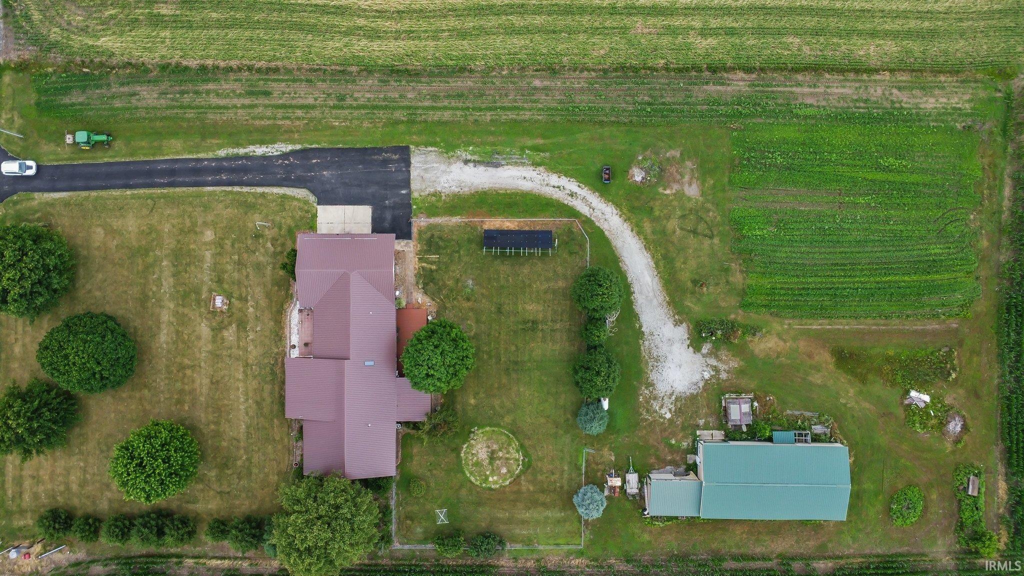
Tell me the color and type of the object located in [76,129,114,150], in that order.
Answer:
green work vehicle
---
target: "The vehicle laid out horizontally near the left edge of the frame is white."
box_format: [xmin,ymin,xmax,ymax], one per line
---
[1,160,38,176]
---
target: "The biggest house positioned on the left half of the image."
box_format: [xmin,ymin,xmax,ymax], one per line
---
[284,234,433,480]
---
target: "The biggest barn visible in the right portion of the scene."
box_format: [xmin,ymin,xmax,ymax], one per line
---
[694,438,853,521]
